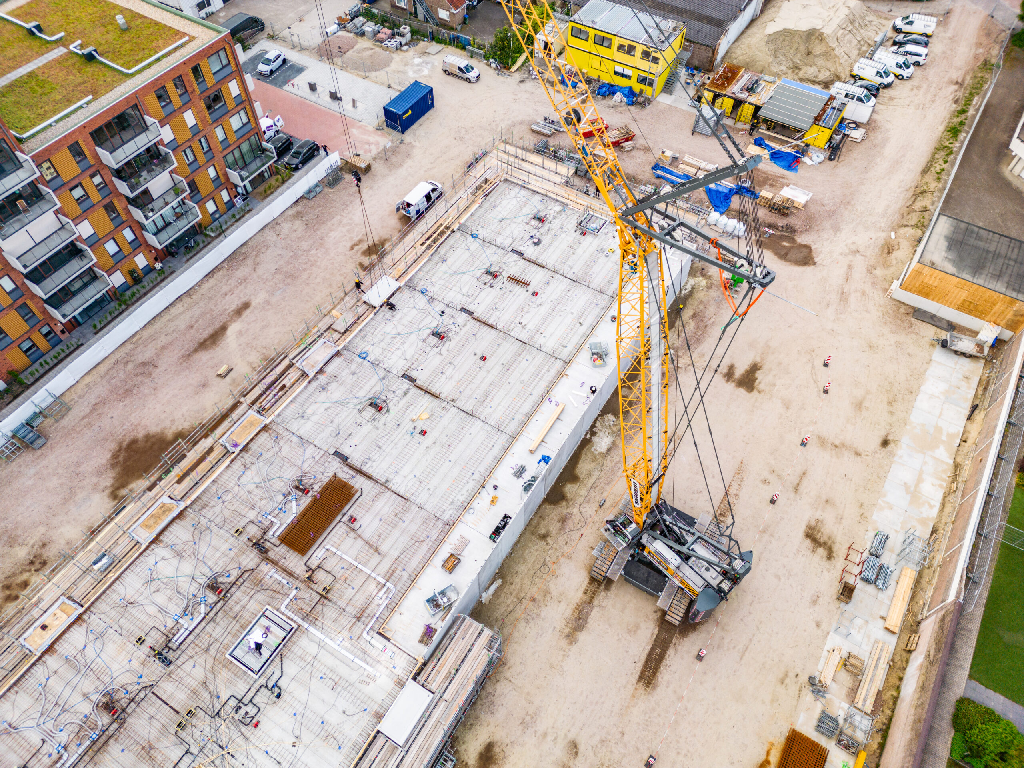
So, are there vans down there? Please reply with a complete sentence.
Yes, a van can be made out from above.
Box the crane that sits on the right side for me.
[496,0,829,627]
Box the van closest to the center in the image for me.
[391,182,440,220]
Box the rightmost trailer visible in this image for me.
[938,321,994,358]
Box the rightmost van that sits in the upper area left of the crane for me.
[443,53,480,81]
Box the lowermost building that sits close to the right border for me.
[884,208,1024,347]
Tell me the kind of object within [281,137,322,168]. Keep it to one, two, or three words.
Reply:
car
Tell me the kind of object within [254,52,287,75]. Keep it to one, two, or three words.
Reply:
car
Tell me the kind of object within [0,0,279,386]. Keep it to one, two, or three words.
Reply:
building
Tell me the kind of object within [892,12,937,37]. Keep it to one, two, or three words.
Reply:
vehicle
